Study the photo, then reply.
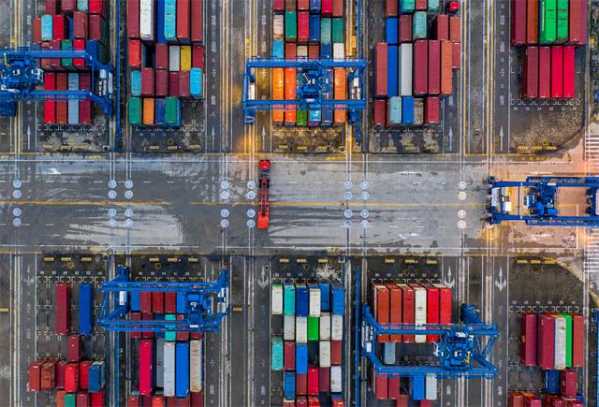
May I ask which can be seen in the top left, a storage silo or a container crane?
container crane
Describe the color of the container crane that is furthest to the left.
blue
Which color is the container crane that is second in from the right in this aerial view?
blue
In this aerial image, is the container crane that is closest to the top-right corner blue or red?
blue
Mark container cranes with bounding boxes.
[360,298,500,377]
[243,54,369,129]
[488,173,599,230]
[97,261,231,336]
[0,45,115,120]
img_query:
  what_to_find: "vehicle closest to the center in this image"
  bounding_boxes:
[257,159,270,230]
